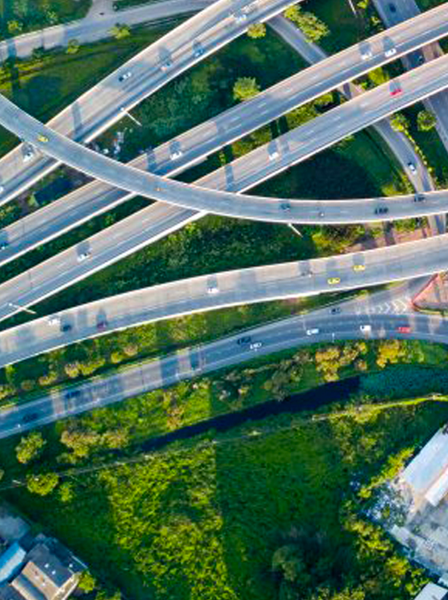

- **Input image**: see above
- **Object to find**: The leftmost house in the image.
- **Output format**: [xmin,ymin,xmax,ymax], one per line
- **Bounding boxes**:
[0,540,30,588]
